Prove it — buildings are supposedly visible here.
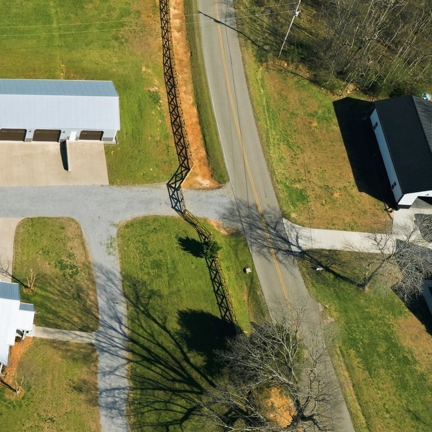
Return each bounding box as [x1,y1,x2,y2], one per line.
[350,87,432,206]
[416,260,432,307]
[0,78,121,144]
[0,280,34,381]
